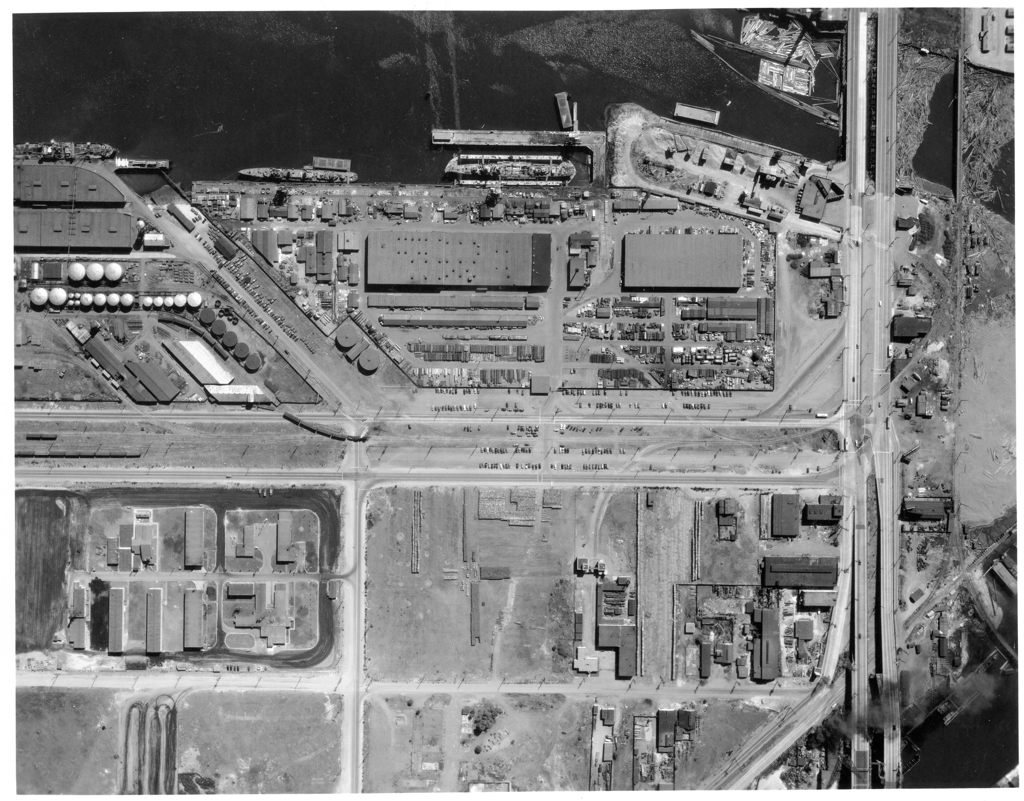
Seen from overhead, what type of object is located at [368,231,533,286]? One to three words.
building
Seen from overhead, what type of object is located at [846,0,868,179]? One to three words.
bridge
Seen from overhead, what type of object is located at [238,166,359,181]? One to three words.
ship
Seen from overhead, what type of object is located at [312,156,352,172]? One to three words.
ship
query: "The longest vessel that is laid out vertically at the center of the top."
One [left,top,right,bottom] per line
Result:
[555,91,572,129]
